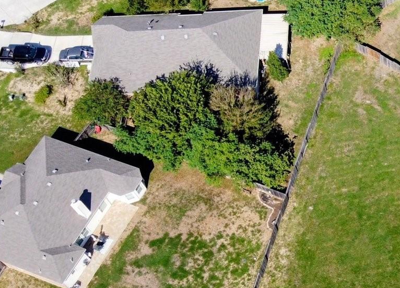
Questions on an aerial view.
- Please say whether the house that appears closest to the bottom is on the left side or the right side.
left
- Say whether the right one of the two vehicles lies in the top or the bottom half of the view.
top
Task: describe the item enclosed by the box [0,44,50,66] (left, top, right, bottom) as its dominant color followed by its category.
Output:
black truck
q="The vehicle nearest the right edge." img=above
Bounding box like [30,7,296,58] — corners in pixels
[57,44,89,65]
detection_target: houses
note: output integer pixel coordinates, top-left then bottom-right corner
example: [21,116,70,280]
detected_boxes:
[0,136,147,288]
[85,9,290,104]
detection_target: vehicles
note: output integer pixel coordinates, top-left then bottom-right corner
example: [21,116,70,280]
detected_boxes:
[0,44,50,66]
[57,44,89,65]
